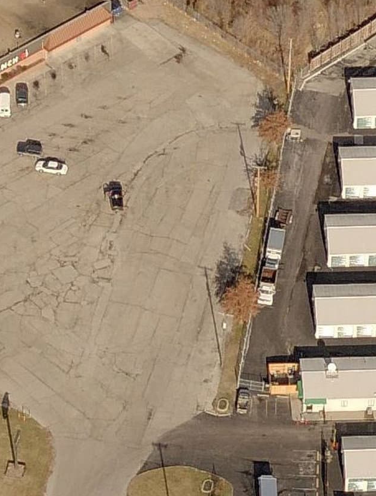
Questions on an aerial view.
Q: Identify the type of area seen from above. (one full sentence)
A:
The picture captures a parking lot.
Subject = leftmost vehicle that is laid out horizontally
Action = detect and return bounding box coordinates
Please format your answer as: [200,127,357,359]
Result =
[15,142,46,157]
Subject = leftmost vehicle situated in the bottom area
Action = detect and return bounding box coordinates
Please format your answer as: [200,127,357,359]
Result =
[235,386,250,411]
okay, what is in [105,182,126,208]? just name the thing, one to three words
truck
